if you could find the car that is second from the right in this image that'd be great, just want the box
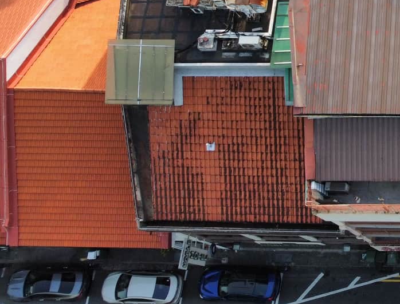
[100,267,187,304]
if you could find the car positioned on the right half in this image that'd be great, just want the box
[199,265,285,304]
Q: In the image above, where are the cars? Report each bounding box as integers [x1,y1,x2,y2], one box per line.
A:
[4,266,95,304]
[100,267,187,304]
[199,265,285,304]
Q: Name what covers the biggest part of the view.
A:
buildings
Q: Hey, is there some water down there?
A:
No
